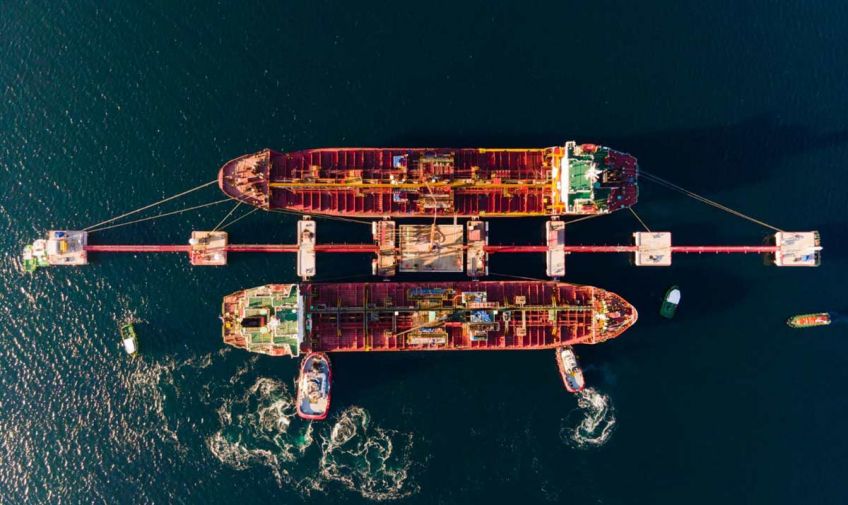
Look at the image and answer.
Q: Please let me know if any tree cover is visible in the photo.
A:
No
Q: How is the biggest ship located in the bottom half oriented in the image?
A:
from left to right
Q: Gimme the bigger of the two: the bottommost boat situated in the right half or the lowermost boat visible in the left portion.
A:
the lowermost boat visible in the left portion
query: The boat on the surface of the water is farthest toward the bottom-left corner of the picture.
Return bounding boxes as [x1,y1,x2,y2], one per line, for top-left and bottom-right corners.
[120,325,137,356]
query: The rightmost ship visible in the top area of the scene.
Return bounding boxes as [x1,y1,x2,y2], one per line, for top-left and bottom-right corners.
[218,143,639,218]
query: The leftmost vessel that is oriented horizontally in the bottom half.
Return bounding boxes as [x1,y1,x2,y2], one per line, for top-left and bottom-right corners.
[219,281,638,358]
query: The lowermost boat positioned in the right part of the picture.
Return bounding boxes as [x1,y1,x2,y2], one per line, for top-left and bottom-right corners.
[557,346,585,394]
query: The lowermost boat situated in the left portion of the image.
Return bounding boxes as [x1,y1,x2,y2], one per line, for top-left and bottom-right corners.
[296,352,330,421]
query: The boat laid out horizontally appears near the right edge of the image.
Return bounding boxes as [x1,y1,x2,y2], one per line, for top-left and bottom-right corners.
[787,311,831,329]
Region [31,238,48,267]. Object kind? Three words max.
boat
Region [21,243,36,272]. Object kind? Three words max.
boat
